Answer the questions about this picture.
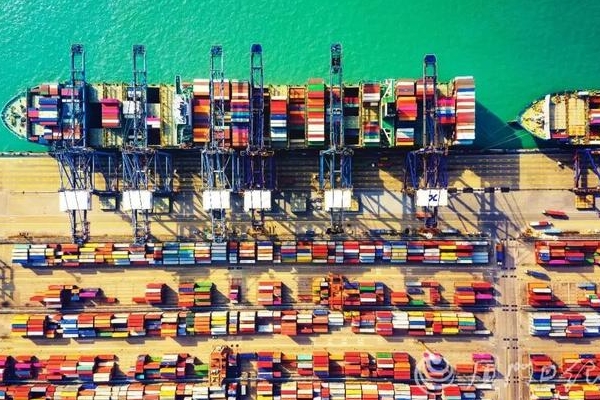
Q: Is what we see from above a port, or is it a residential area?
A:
port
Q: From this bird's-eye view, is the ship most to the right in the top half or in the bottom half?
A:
top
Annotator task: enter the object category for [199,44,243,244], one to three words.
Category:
container crane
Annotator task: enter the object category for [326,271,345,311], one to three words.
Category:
crane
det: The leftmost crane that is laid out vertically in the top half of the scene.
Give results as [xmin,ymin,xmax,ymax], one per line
[46,45,125,245]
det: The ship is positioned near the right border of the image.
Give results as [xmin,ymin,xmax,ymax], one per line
[516,86,600,146]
